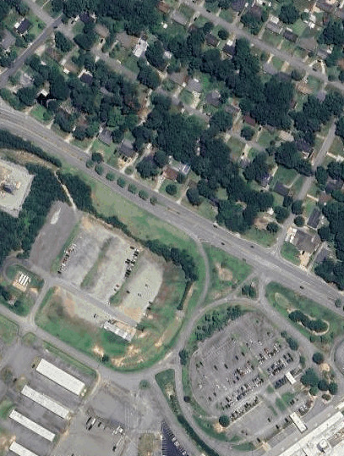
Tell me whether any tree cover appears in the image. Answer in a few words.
Yes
